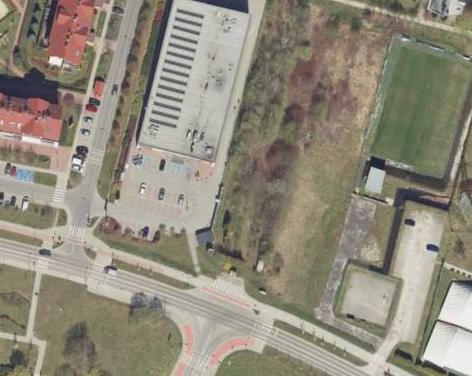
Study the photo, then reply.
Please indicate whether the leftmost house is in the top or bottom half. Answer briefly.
top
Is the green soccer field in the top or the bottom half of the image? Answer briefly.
top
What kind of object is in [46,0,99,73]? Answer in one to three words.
house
